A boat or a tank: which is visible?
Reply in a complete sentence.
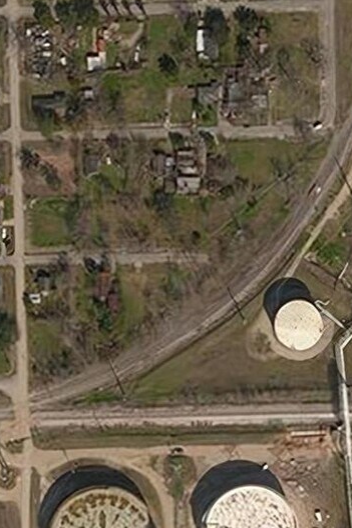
The image shows a tank.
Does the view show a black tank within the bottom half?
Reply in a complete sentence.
No, there's no black tank to be seen within the bottom half.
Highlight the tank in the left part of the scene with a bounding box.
[52,488,149,528]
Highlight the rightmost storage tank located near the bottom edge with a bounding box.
[202,486,297,528]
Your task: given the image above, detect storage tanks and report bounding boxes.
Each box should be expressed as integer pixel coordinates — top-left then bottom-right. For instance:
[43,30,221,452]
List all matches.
[202,486,297,528]
[52,488,149,528]
[273,297,324,350]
